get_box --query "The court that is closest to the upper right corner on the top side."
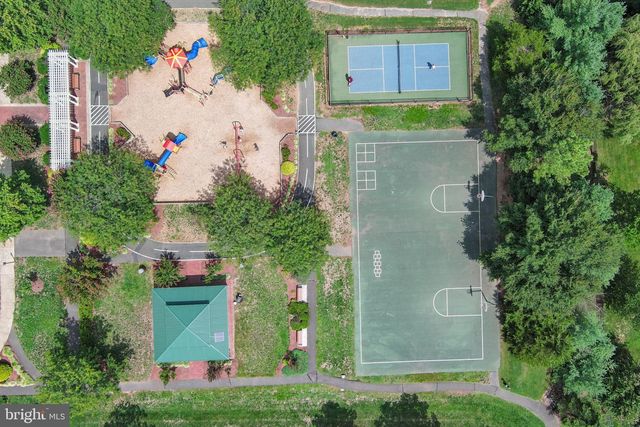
[328,31,469,105]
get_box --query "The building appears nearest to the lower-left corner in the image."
[152,285,231,362]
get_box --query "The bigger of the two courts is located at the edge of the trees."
[349,126,500,376]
